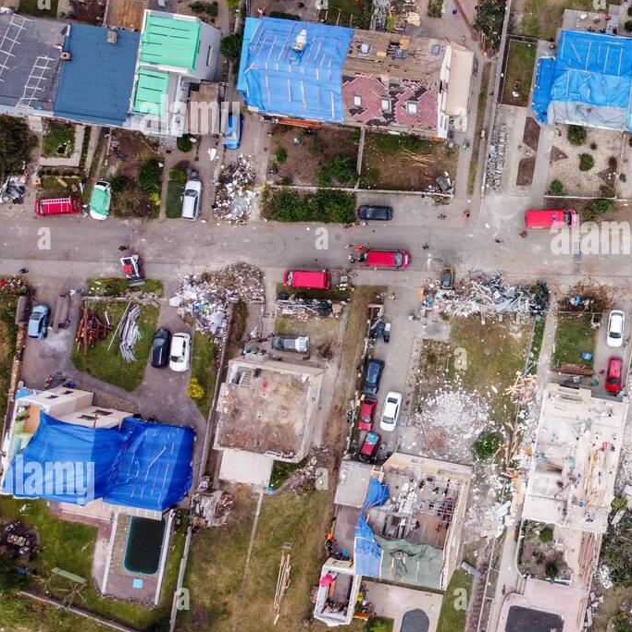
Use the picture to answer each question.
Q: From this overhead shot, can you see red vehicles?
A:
Yes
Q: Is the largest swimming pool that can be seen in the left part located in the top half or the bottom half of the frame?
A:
bottom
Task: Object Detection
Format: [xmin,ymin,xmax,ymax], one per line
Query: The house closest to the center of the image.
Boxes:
[215,352,335,459]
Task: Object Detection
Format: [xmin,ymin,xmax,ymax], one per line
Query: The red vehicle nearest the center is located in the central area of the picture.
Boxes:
[281,268,329,291]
